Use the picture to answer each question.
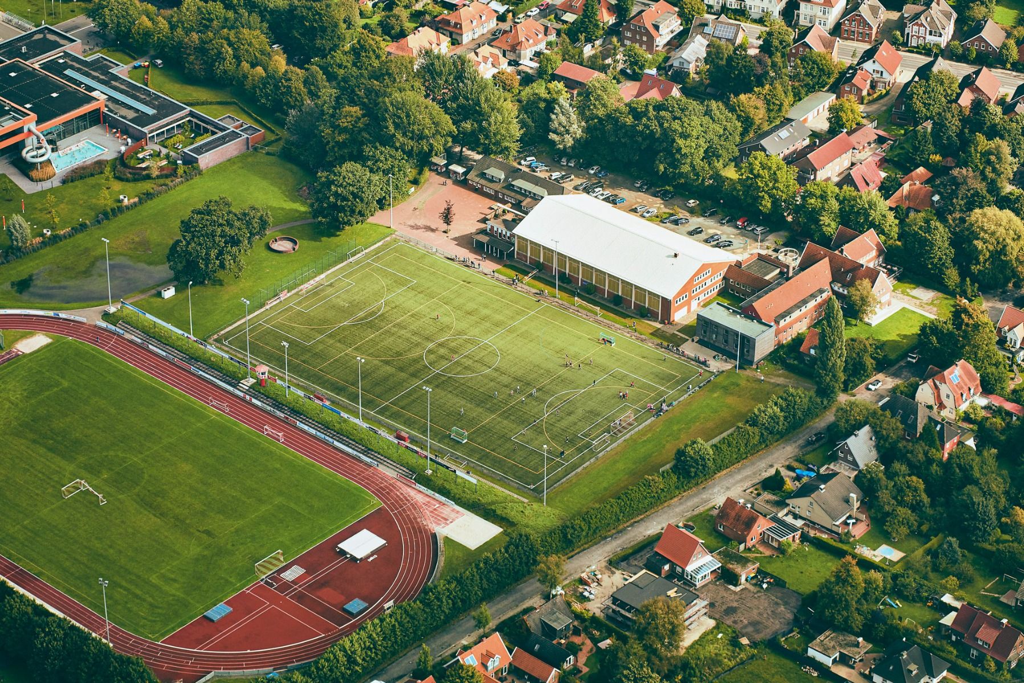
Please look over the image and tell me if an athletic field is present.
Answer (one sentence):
Yes, there is an athletic field in the image.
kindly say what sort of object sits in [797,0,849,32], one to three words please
house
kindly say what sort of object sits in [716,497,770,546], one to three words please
house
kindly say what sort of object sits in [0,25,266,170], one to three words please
building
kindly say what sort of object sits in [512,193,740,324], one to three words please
building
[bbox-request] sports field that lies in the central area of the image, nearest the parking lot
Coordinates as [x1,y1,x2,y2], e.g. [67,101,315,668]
[207,232,722,497]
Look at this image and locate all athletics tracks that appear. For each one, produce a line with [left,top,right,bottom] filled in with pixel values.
[0,317,435,671]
